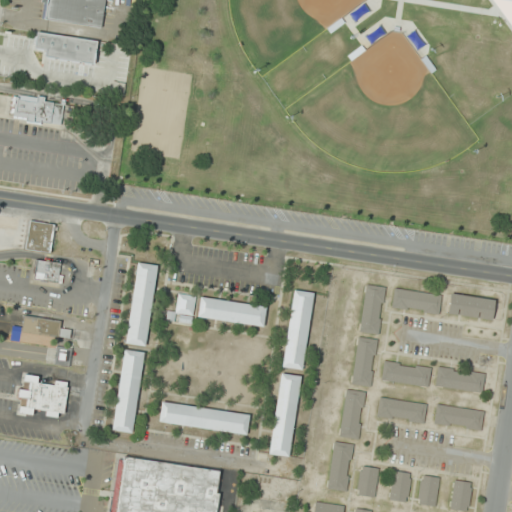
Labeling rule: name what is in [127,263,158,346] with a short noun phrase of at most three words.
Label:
building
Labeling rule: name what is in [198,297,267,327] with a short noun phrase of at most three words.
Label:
building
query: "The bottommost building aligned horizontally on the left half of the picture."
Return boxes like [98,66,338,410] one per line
[111,459,222,512]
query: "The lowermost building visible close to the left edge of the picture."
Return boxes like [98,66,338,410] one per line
[18,374,69,418]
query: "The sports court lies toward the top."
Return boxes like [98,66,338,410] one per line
[130,66,193,160]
